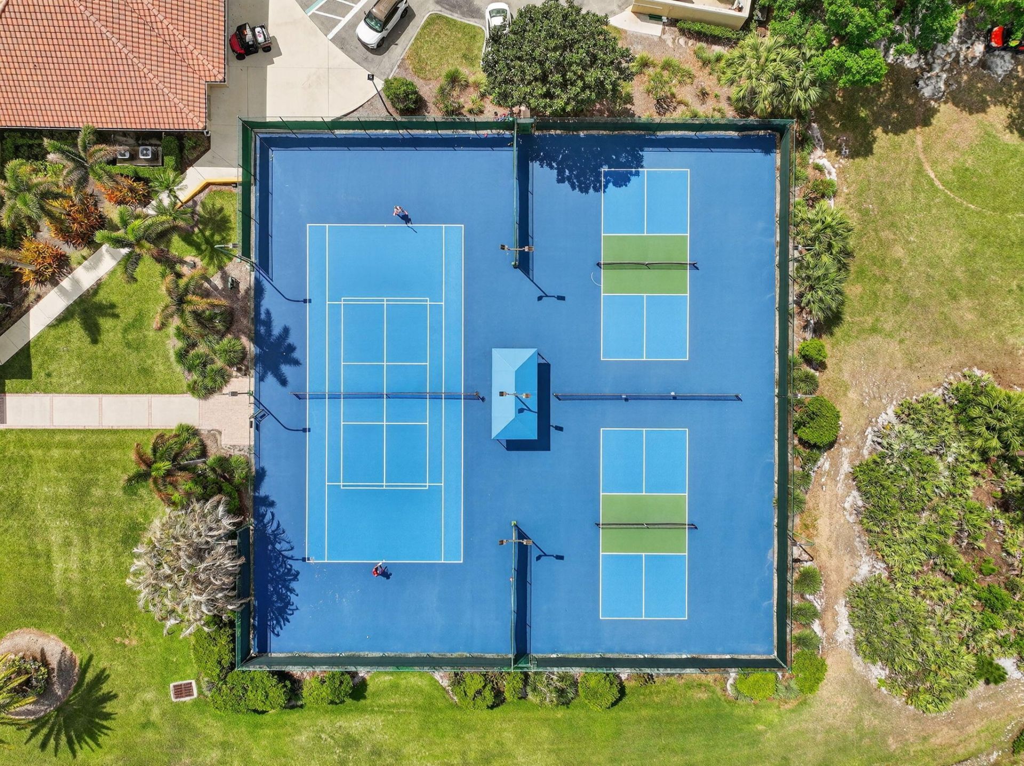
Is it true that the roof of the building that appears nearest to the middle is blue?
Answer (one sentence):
Yes, the roof of the building that appears nearest to the middle is indeed blue.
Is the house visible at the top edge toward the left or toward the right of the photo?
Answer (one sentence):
It is on the left.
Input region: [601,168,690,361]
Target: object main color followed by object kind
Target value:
blue sports court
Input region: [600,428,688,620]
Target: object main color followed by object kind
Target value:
blue sports court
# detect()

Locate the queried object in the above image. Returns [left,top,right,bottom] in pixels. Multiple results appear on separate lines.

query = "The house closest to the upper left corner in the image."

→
[0,0,230,150]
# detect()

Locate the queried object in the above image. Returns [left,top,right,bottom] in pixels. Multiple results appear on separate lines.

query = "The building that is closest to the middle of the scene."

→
[491,349,537,440]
